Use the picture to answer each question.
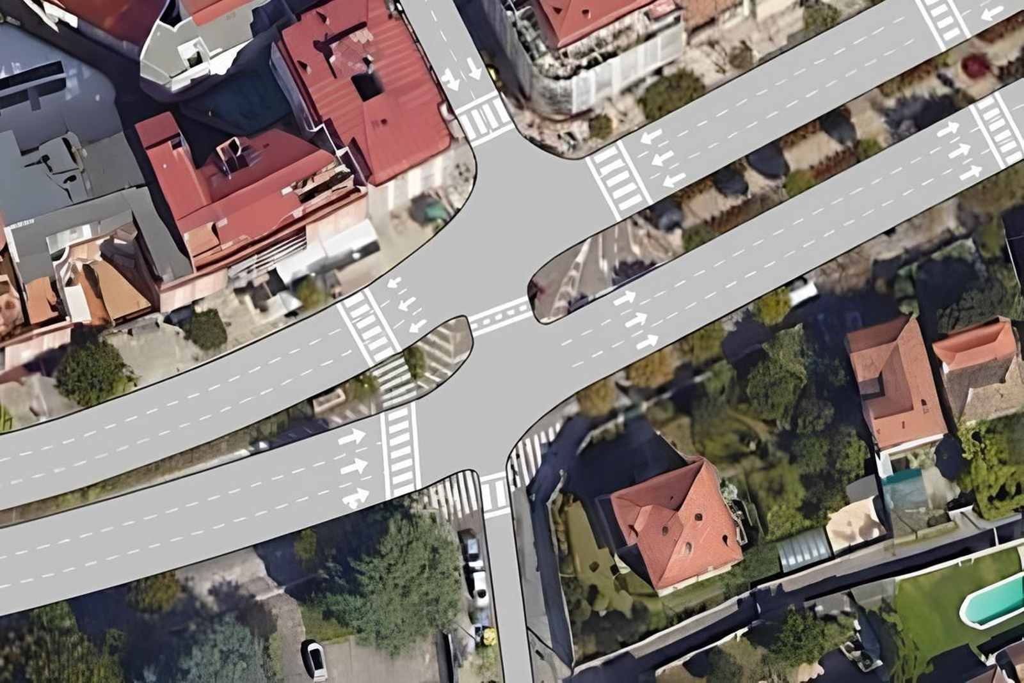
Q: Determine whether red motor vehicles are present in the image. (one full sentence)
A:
No, there isn't any red motor vehicle down there.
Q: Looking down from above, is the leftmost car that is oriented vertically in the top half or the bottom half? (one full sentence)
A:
You can find the leftmost car that is oriented vertically in the bottom half.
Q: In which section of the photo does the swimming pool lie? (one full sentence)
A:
Look in the bottom right portion of the view to spot the swimming pool.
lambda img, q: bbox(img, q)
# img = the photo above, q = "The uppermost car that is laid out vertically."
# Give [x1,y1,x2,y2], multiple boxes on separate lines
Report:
[466,529,483,566]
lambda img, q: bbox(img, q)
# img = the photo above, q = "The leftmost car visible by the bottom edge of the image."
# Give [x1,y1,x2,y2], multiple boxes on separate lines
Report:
[303,639,326,683]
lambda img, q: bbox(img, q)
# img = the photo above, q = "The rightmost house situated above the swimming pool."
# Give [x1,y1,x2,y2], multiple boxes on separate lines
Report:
[929,318,1024,449]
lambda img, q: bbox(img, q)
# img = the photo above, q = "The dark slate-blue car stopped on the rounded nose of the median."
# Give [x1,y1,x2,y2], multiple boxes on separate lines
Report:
[566,290,592,310]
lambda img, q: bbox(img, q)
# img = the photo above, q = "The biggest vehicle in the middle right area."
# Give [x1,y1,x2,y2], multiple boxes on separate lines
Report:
[786,278,819,305]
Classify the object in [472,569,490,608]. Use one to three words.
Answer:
car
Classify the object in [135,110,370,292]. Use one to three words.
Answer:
house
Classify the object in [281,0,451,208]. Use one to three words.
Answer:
building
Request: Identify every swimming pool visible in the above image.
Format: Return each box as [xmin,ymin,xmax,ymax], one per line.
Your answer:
[959,574,1024,630]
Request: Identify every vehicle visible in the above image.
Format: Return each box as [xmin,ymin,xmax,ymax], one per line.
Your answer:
[303,639,326,683]
[786,278,819,305]
[472,569,490,608]
[466,529,483,566]
[566,290,592,310]
[476,606,493,643]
